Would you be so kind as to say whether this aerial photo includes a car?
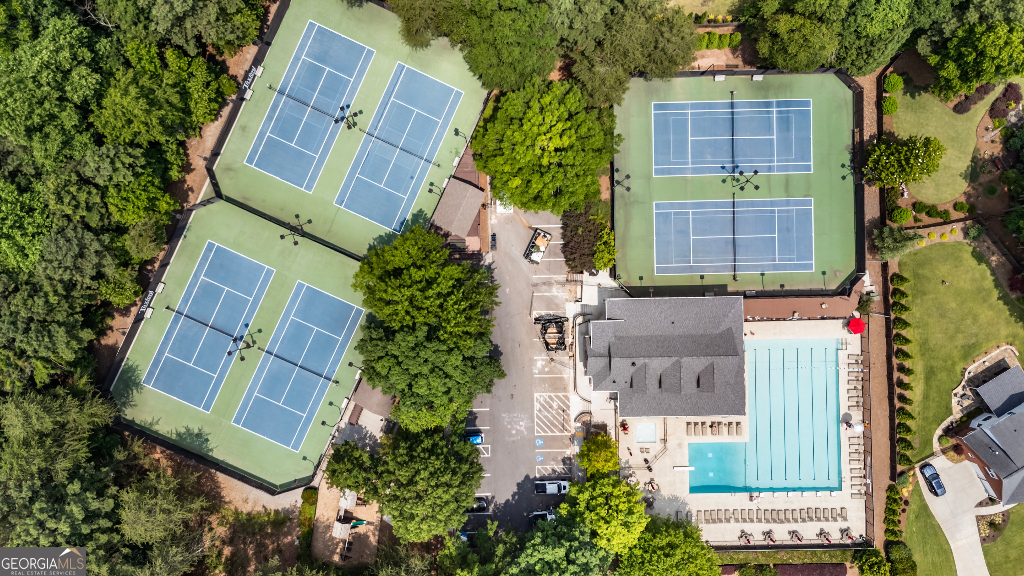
Yes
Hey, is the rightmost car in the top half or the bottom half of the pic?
bottom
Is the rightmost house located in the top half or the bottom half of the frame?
bottom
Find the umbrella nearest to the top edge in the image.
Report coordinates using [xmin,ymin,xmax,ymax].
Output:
[847,317,864,334]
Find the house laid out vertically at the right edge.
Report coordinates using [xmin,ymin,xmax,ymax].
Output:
[950,364,1024,514]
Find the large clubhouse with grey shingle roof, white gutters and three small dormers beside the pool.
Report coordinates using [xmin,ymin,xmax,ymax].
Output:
[584,296,747,418]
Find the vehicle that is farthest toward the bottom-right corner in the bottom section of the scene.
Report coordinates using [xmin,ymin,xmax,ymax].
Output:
[922,464,949,499]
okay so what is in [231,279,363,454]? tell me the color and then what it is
blue tennis court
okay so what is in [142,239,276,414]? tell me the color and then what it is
blue tennis court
